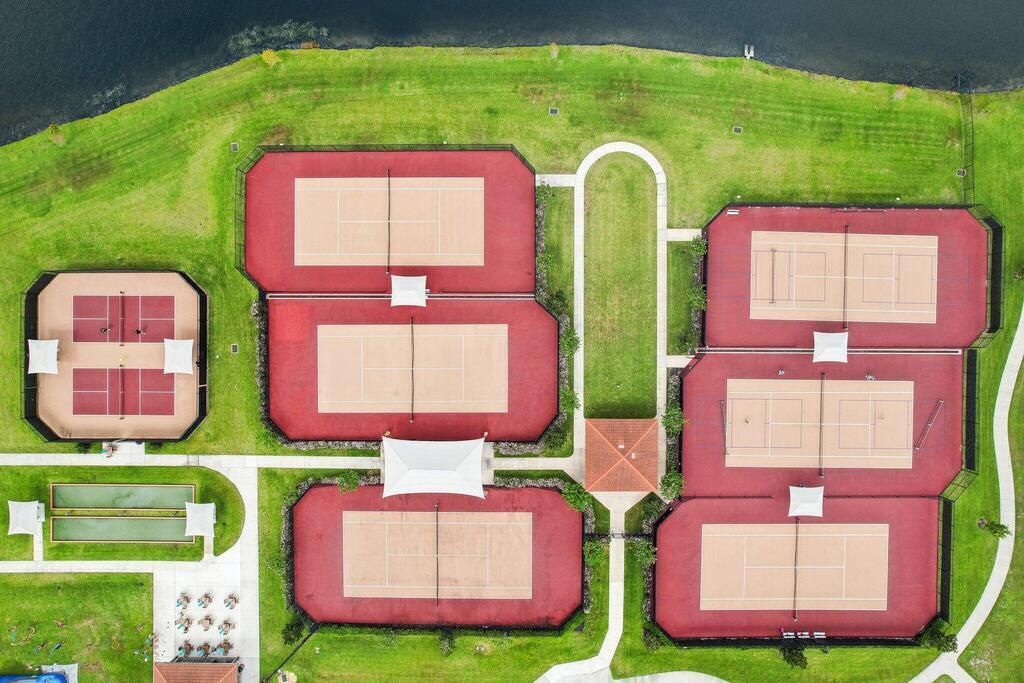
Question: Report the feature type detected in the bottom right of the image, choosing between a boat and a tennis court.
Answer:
tennis court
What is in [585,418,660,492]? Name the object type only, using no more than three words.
building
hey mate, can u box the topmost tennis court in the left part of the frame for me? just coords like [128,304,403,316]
[246,150,535,293]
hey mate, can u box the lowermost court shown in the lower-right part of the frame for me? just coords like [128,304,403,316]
[654,497,939,638]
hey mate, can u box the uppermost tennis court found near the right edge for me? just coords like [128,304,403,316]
[700,206,988,349]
